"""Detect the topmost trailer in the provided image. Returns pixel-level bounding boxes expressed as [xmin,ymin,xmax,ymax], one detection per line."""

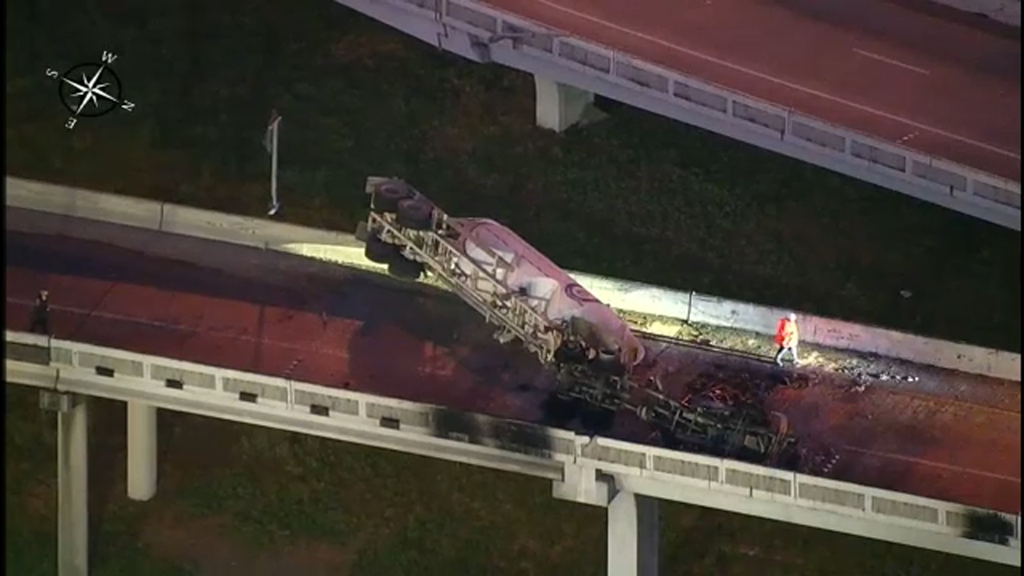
[357,169,643,387]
